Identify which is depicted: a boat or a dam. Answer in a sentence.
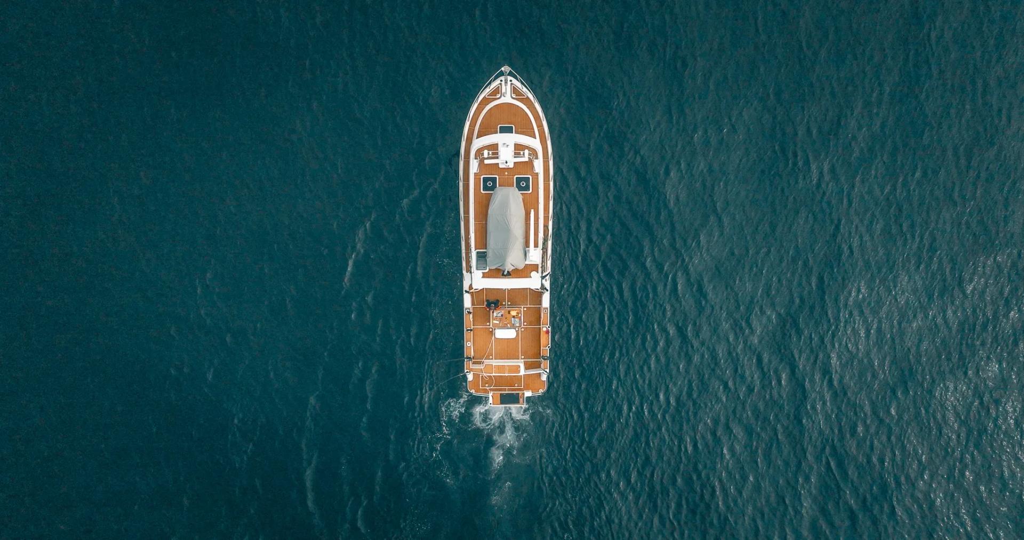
Of the two, only a boat appears.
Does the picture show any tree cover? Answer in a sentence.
No, the scene doesn't show any tree cover.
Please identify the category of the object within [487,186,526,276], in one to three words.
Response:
boat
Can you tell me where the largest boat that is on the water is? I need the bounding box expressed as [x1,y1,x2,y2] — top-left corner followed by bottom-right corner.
[459,66,554,406]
